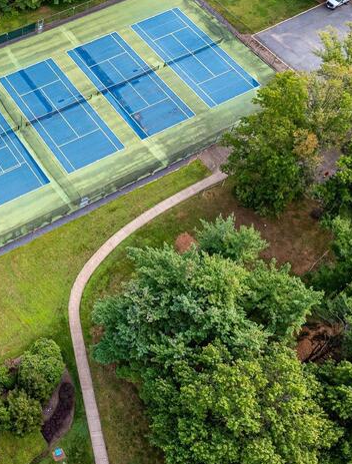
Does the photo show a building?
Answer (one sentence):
No, the scene contains no building.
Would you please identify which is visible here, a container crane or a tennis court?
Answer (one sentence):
I can see a tennis court in this picture.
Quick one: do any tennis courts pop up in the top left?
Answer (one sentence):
Yes, a tennis court can be seen in the top left.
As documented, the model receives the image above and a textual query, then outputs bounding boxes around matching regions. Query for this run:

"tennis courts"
[0,112,50,205]
[66,31,194,139]
[0,57,125,174]
[131,7,260,107]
